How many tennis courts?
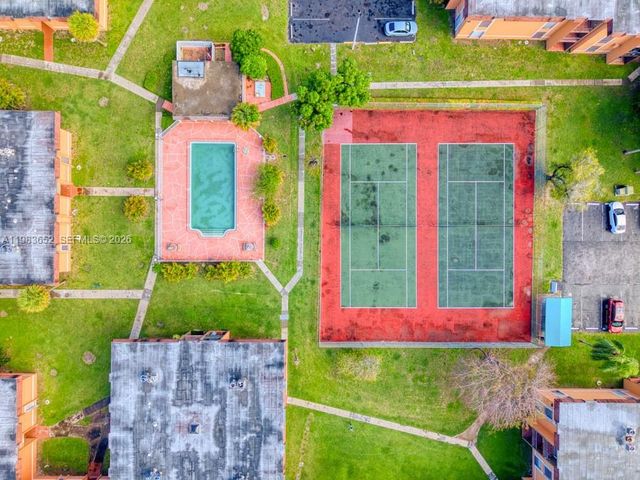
2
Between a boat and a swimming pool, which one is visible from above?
swimming pool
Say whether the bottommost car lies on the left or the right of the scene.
right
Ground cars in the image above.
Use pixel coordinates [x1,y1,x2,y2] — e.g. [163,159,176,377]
[382,19,416,36]
[607,201,626,234]
[606,299,626,332]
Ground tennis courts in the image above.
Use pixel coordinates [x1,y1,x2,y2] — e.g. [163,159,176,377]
[431,144,524,308]
[334,144,425,308]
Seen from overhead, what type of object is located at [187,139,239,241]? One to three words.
swimming pool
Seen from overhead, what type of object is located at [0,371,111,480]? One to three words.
building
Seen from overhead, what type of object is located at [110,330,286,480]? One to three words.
building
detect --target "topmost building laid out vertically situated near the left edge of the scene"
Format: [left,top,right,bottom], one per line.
[0,111,76,284]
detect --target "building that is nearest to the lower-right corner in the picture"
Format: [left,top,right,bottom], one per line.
[526,378,640,480]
